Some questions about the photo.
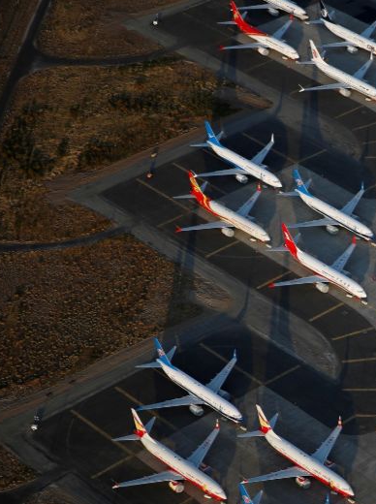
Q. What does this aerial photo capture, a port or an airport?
airport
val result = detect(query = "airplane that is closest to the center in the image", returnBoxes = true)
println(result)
[174,172,270,242]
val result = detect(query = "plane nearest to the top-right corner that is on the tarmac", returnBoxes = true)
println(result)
[309,2,376,56]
